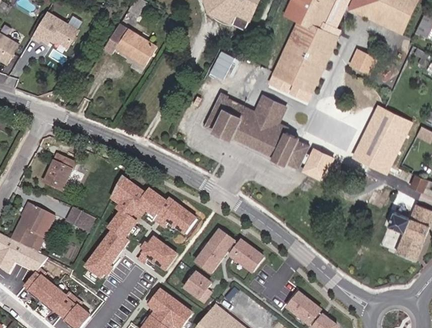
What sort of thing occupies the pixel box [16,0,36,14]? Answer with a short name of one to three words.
swimming pool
